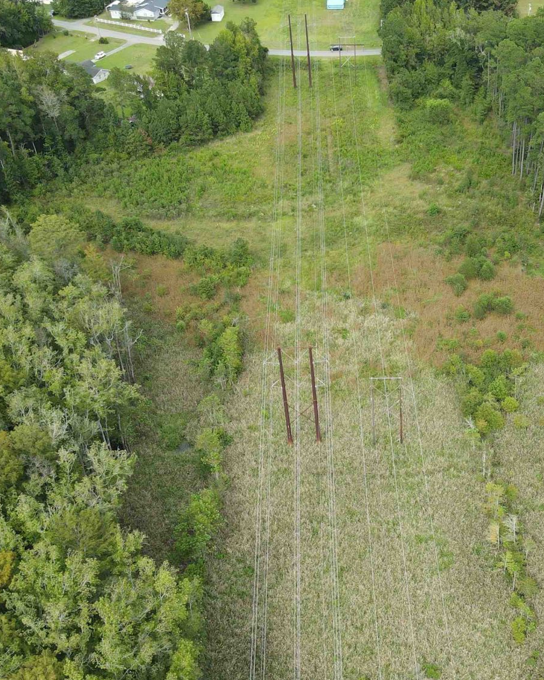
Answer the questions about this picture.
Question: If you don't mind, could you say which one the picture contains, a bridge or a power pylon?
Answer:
power pylon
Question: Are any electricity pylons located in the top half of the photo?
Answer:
Yes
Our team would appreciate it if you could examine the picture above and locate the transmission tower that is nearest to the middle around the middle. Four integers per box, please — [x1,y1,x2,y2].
[262,346,328,443]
